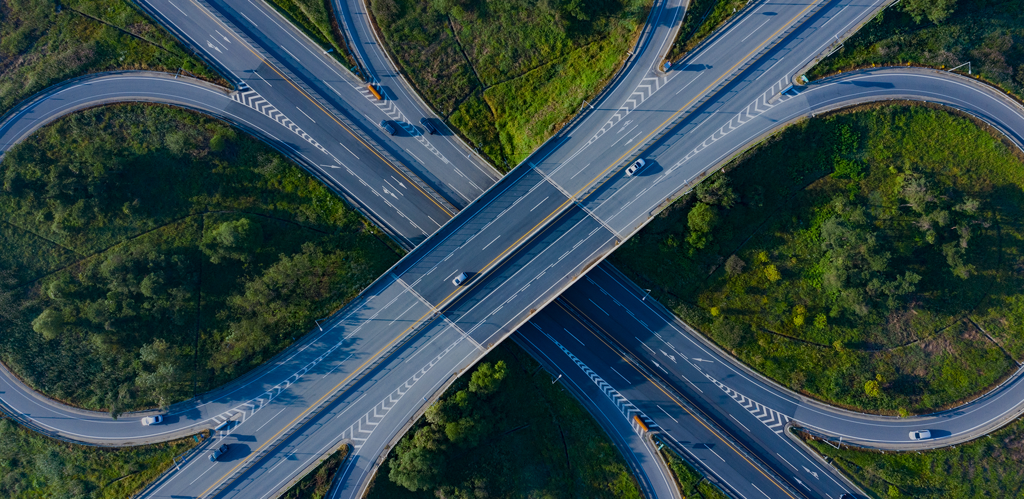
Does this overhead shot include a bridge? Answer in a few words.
Yes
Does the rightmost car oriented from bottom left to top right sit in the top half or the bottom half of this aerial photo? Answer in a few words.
top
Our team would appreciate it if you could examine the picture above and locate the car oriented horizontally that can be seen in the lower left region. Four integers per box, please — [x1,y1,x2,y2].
[141,414,164,426]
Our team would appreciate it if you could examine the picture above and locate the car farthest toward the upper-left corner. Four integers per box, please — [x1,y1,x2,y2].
[379,117,397,138]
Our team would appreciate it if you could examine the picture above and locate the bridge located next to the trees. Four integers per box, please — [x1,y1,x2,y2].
[340,133,656,378]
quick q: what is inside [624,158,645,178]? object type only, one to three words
car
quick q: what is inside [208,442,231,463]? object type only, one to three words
truck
